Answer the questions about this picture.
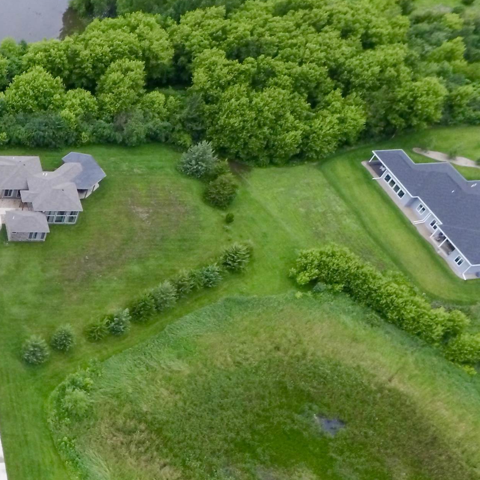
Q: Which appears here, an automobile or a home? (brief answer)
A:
home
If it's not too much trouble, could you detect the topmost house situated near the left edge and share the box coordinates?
[0,152,107,222]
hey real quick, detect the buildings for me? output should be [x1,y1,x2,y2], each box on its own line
[0,152,107,222]
[367,149,480,274]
